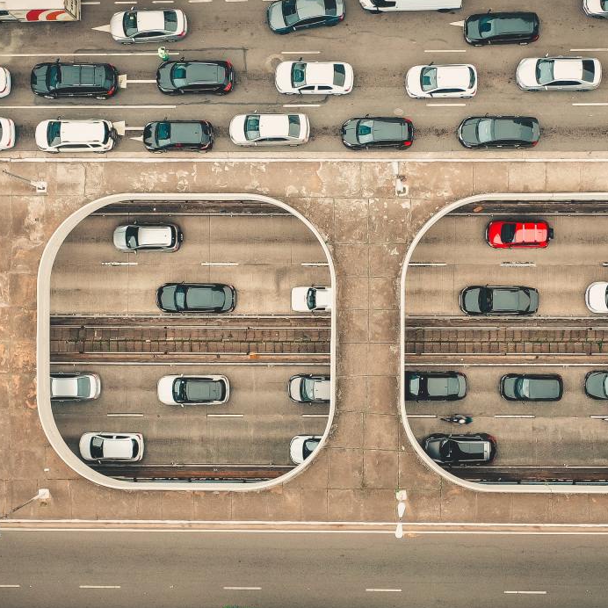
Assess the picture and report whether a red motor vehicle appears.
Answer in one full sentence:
Yes, you can see a red motor vehicle in this photo.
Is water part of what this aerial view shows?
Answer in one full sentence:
No, water can't be seen anywhere here.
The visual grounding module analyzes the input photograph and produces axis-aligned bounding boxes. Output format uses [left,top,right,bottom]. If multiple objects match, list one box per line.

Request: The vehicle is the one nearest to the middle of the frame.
[292,281,332,316]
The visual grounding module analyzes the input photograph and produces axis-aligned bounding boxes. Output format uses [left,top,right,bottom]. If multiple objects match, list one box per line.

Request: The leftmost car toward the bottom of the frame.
[50,372,101,402]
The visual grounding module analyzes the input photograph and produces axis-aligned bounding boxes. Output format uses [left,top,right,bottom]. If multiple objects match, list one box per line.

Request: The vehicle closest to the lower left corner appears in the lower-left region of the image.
[78,430,144,466]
